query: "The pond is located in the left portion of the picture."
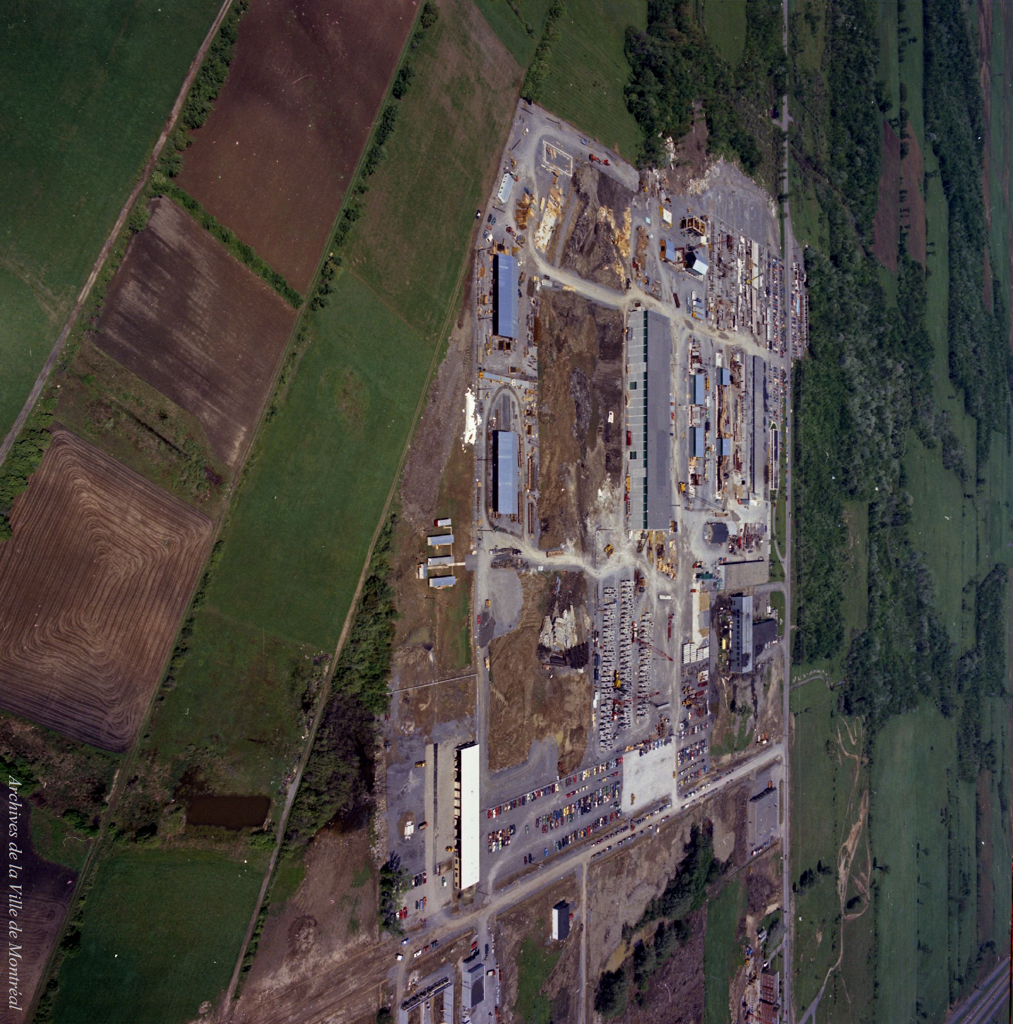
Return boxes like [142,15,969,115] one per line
[186,796,271,831]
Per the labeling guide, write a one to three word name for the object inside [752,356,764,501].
building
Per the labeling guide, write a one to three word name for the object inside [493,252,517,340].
shed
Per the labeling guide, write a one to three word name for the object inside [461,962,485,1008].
building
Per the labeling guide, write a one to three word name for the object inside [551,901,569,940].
barn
